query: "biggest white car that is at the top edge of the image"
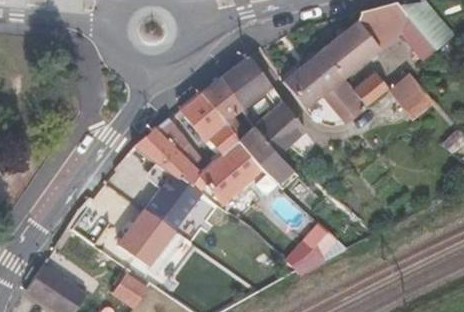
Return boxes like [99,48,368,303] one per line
[300,7,322,20]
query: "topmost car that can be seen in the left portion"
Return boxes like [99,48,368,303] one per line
[78,134,96,154]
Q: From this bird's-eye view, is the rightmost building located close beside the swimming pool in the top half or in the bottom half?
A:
bottom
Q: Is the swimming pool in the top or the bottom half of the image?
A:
bottom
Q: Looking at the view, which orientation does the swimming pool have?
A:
on a diagonal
